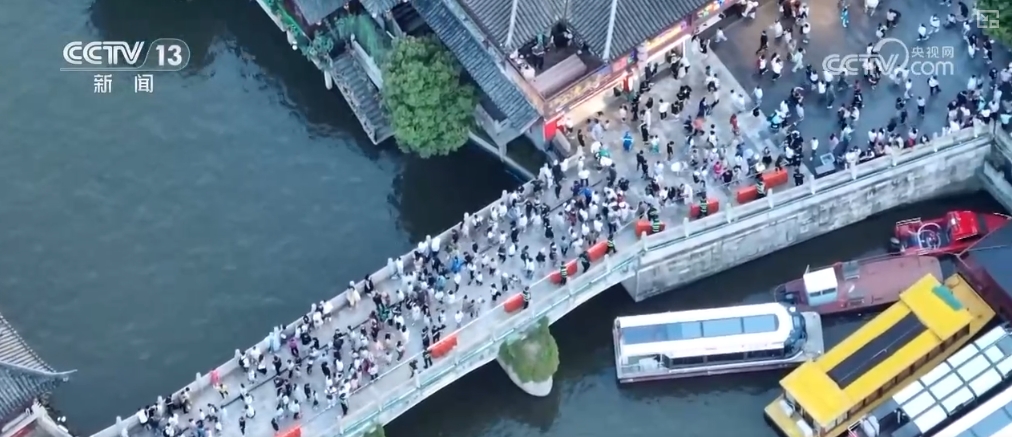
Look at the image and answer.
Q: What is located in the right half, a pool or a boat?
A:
boat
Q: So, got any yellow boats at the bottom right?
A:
Yes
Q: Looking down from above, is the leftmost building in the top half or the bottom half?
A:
bottom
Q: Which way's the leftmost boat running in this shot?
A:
horizontally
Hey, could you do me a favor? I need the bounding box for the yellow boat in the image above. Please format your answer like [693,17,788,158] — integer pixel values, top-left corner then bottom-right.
[763,272,1003,437]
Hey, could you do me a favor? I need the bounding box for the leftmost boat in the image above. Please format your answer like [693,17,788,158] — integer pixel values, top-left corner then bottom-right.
[611,302,822,383]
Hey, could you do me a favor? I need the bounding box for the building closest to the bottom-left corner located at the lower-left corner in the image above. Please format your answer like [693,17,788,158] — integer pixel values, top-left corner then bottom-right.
[0,315,80,437]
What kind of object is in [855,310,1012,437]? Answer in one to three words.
boat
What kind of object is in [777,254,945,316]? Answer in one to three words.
vessel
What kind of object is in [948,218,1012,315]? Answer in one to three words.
vessel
